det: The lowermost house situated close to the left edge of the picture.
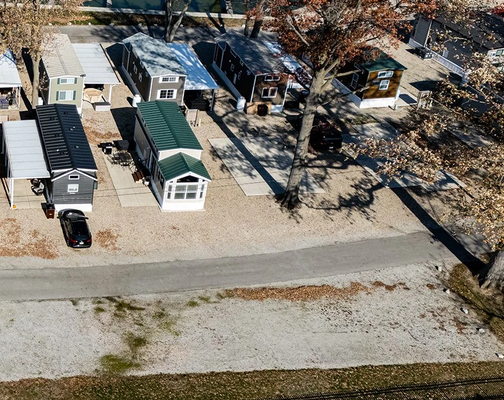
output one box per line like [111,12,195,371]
[2,101,99,210]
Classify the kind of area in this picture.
residential area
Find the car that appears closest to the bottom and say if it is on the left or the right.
left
